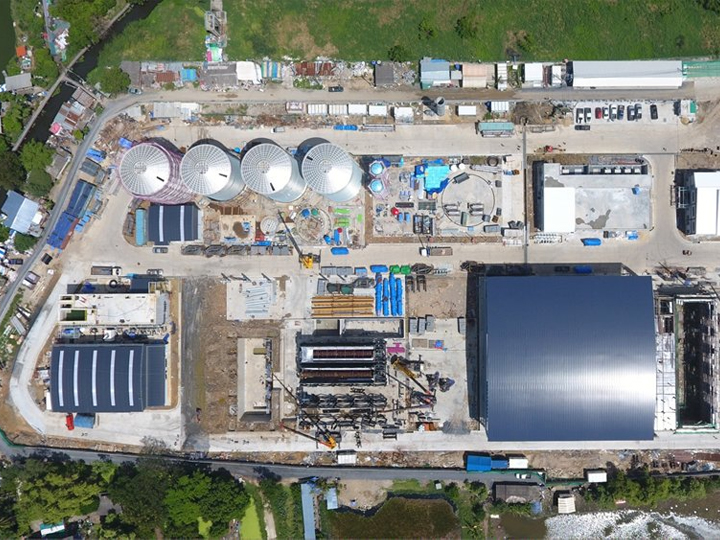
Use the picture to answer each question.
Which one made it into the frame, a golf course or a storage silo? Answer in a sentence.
I can see a storage silo in this picture.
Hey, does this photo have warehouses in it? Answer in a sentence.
Yes, a warehouse can be made out from above.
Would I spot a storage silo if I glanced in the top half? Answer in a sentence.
Yes, the scene does show a storage silo in the top half.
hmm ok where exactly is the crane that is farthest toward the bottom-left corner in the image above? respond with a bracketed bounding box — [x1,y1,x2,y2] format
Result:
[274,371,336,454]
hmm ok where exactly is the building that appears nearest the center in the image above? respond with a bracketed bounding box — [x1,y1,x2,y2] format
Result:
[296,333,390,386]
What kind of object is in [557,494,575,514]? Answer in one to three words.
shed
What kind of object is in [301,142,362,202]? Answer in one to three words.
silo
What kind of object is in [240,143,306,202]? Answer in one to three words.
silo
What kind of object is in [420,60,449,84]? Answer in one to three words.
house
